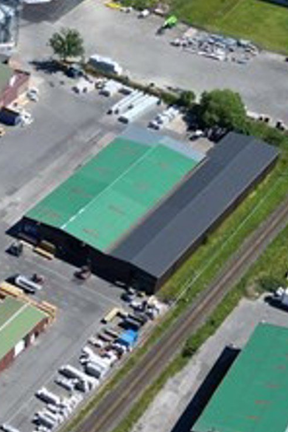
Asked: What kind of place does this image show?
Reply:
industrial area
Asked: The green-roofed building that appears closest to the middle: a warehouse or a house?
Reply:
warehouse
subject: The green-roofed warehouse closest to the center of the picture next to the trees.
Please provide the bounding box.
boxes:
[24,127,202,270]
